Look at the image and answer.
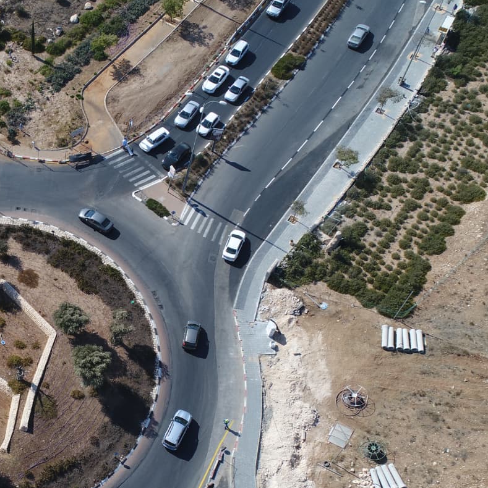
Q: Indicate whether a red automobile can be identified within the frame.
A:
No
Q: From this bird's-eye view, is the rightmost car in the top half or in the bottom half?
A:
top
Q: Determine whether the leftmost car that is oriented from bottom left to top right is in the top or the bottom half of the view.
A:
top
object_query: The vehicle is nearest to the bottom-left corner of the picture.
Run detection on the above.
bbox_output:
[161,409,191,454]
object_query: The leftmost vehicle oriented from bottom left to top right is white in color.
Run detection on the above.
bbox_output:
[137,125,173,153]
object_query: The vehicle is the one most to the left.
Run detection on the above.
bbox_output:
[77,207,116,234]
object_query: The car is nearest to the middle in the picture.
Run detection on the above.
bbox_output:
[220,230,245,265]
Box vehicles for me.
[224,38,252,67]
[195,109,224,139]
[220,230,245,265]
[137,125,173,153]
[265,0,291,17]
[223,73,252,105]
[161,409,191,454]
[345,23,372,52]
[159,139,194,172]
[77,207,116,234]
[201,65,232,96]
[172,97,202,130]
[180,320,203,356]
